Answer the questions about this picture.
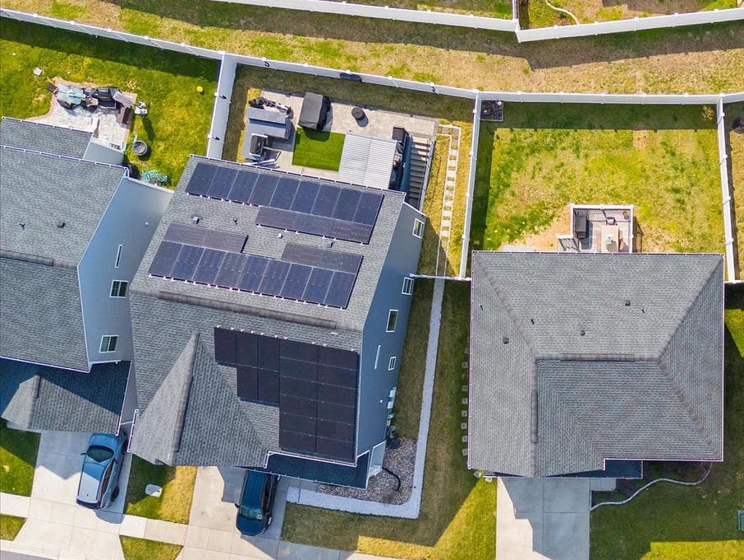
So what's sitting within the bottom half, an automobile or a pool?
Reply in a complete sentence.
The one visible within the bottom half is an automobile.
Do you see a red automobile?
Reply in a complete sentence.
No, the frame has no red automobile in it.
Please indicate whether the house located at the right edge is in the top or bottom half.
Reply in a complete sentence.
The bottom half of the photo is where the house located at the right edge is.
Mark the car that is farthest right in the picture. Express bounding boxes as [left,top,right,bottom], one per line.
[233,470,280,536]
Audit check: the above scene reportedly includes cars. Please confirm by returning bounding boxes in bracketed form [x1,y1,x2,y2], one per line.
[233,470,280,536]
[74,433,127,514]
